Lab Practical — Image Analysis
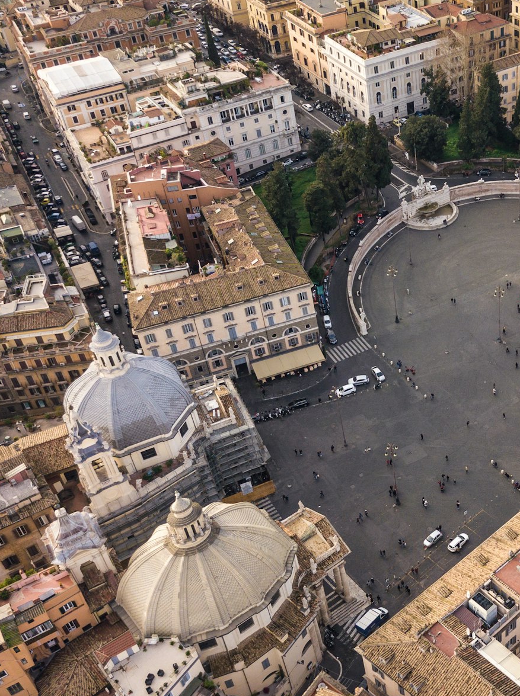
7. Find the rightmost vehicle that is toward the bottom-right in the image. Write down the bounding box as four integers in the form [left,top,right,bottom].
[446,533,469,554]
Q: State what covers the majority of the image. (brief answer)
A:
buildings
